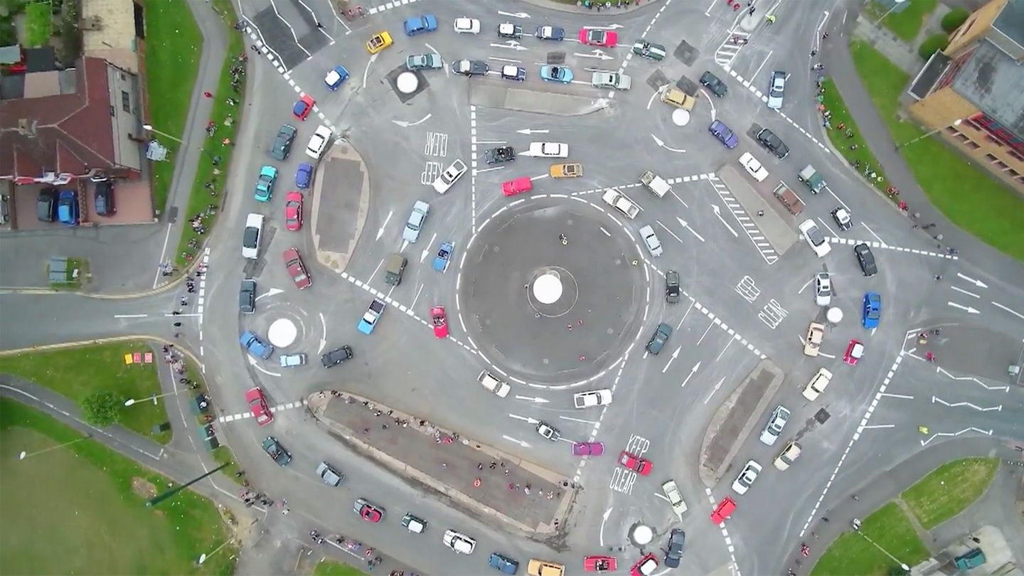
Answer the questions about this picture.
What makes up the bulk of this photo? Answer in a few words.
paved ground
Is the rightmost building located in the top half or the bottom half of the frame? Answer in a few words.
top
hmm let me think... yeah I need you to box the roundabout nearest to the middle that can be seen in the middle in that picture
[533,273,562,303]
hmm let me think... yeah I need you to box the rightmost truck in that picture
[951,547,989,574]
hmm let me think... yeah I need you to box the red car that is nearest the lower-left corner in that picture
[245,385,276,428]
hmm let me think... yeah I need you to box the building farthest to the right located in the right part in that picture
[897,0,1024,194]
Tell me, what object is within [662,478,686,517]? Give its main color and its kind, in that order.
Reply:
white truck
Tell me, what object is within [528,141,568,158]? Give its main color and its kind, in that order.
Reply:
white car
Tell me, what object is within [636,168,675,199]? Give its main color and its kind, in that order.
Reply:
white truck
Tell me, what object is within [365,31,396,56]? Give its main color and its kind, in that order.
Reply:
yellow car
